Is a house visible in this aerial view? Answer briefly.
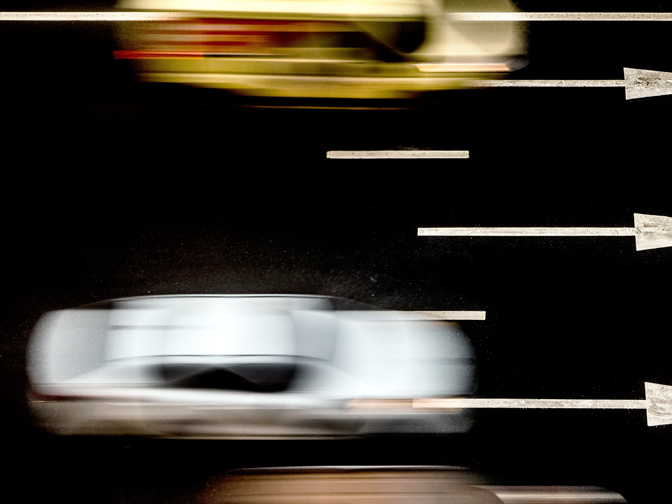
No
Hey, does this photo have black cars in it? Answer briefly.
No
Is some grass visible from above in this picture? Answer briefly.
No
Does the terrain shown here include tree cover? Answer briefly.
No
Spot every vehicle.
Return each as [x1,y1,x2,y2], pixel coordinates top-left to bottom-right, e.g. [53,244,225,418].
[122,0,526,111]
[32,282,469,436]
[221,461,605,504]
